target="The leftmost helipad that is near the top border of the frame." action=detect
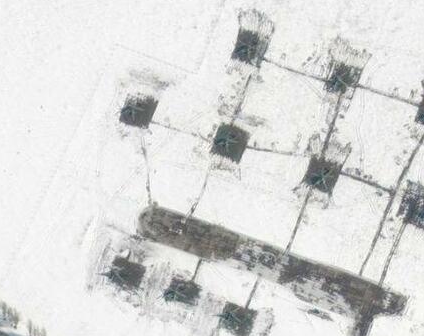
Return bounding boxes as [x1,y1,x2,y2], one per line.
[226,5,276,76]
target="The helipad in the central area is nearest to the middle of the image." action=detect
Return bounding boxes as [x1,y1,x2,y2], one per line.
[209,125,251,175]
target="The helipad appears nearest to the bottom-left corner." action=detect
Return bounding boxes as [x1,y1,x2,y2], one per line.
[109,254,148,288]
